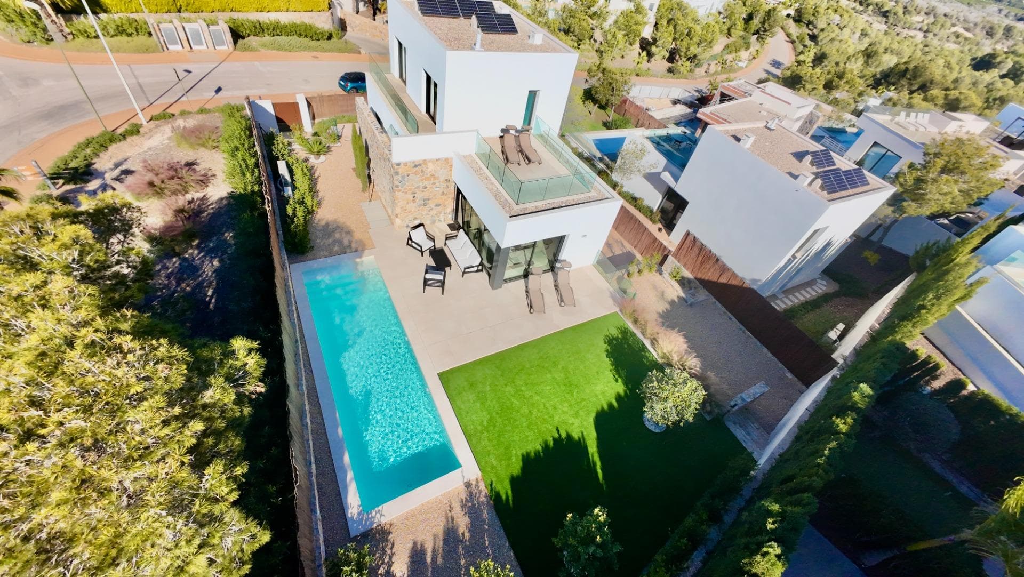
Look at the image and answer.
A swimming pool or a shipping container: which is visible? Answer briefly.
swimming pool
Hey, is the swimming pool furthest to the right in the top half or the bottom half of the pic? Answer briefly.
top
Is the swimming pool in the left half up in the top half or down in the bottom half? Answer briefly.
bottom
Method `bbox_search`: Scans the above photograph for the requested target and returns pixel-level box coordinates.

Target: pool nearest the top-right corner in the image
[816,119,856,154]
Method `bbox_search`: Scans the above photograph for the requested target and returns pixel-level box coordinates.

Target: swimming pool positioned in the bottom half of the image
[289,247,481,536]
